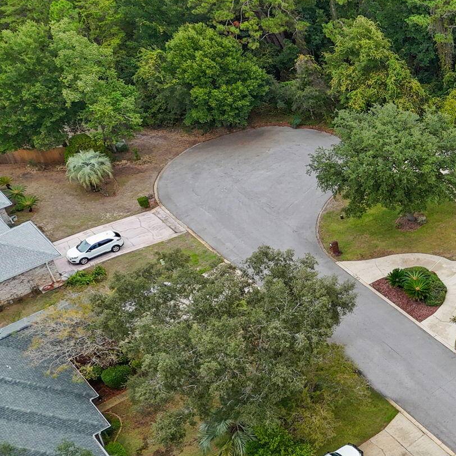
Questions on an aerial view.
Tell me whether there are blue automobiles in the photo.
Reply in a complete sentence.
No, there is no blue automobile in the image.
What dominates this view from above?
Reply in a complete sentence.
What you mostly see from above here is trees.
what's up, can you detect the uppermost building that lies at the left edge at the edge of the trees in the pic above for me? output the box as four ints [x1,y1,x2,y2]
[0,189,66,316]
